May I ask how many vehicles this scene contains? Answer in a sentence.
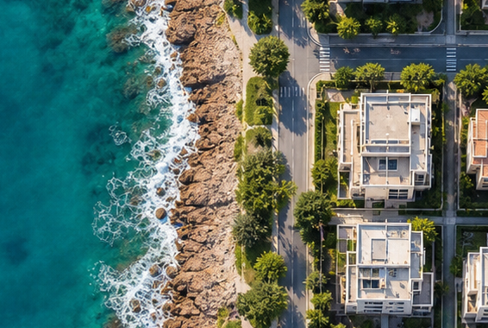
There are no vehicles in the image.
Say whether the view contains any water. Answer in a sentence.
Yes, the picture does contain water.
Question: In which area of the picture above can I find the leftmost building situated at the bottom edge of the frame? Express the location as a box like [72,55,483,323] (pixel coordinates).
[336,217,433,312]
